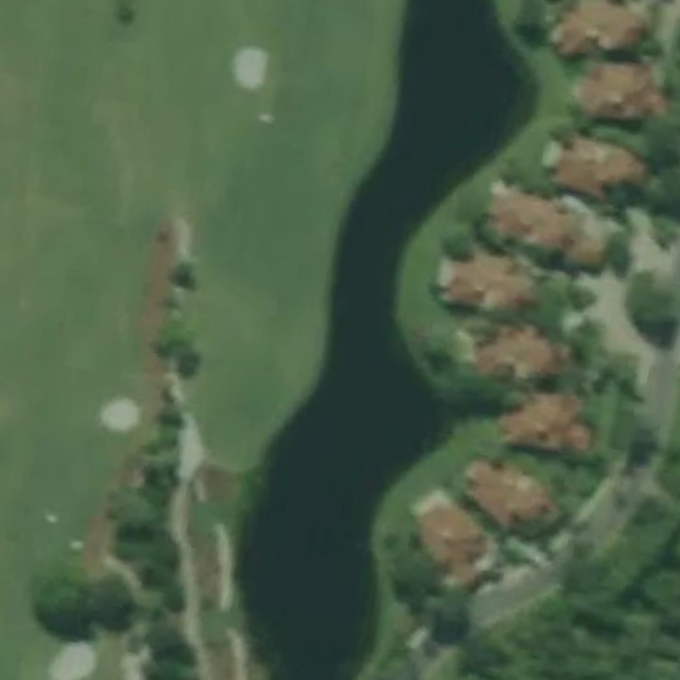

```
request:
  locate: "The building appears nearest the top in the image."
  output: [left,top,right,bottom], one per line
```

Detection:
[549,0,647,58]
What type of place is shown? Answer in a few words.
golf course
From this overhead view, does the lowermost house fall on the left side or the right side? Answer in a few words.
right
